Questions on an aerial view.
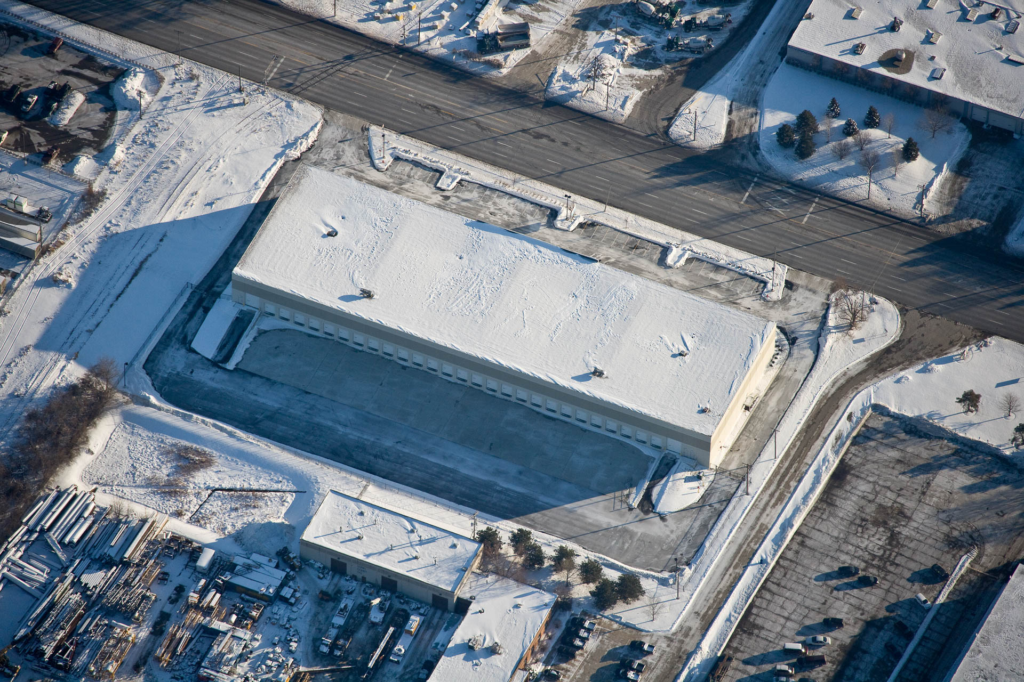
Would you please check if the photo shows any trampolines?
No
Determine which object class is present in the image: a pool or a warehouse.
warehouse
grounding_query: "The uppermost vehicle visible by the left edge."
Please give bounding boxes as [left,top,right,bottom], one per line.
[47,27,66,53]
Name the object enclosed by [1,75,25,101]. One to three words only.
truck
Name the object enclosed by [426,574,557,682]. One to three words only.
building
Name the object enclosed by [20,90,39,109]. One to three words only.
vehicle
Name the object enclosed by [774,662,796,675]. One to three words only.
vehicle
